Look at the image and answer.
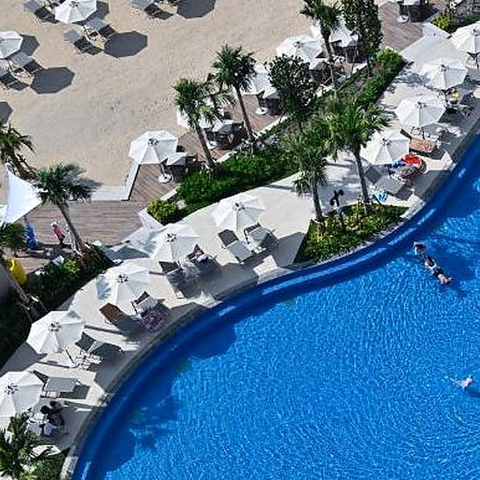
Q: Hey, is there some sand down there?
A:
Yes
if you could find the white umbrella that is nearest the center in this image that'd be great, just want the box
[213,195,266,248]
